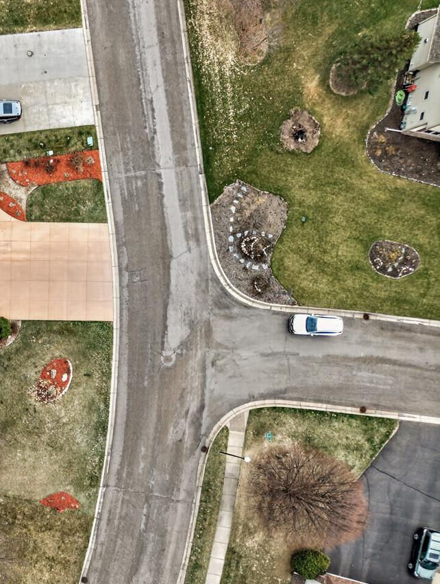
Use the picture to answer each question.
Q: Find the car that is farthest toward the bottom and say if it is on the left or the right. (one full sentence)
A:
The car that is farthest toward the bottom appears in the right half of the scene.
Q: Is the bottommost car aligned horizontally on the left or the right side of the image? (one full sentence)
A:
It is on the right.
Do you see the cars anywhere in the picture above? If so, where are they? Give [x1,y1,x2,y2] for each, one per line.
[283,311,344,338]
[0,99,23,123]
[409,523,440,581]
